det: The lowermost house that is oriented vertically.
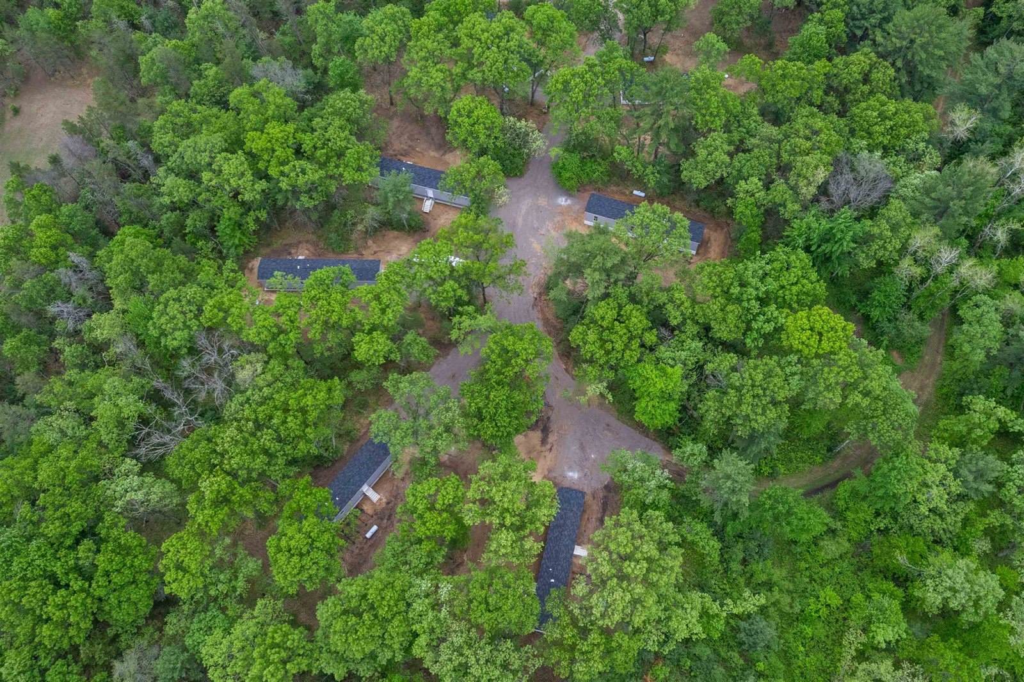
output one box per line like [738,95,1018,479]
[526,486,585,637]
